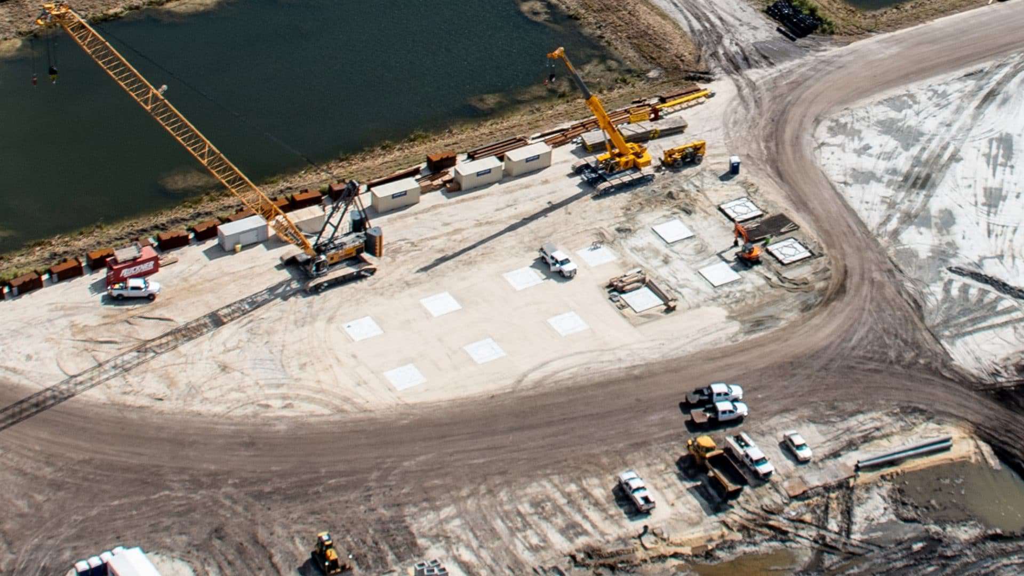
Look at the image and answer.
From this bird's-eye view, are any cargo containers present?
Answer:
Yes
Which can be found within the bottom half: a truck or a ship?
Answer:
truck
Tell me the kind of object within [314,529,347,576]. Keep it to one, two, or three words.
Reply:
work vehicle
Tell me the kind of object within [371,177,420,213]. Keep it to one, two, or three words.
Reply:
shipping container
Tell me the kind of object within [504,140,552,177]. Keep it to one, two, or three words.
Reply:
shipping container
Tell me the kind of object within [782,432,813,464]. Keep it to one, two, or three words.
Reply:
truck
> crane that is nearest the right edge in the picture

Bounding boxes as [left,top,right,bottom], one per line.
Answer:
[550,47,656,194]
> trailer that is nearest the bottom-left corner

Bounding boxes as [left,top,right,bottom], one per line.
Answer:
[112,547,159,576]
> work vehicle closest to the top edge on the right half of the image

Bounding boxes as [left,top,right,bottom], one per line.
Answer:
[654,137,708,169]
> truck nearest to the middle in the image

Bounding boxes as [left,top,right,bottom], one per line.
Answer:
[540,249,580,278]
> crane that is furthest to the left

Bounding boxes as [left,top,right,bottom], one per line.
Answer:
[39,5,386,294]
